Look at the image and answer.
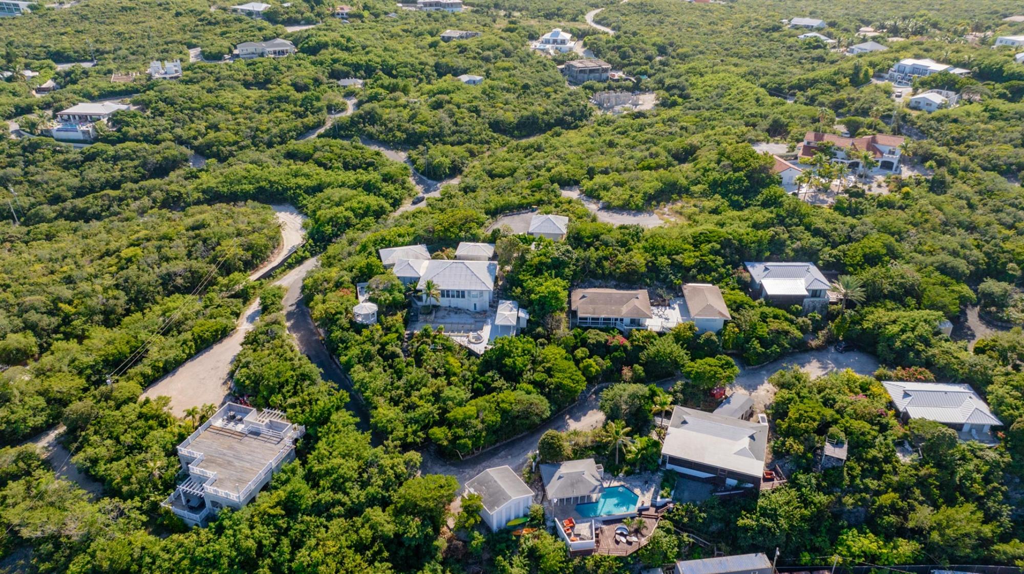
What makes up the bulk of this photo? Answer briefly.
trees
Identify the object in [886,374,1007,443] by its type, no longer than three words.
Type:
house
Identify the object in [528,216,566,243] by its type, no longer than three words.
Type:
building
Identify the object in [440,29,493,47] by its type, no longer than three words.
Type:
house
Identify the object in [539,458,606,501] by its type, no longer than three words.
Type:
building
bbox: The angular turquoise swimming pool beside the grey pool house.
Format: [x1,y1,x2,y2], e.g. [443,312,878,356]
[549,471,665,528]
